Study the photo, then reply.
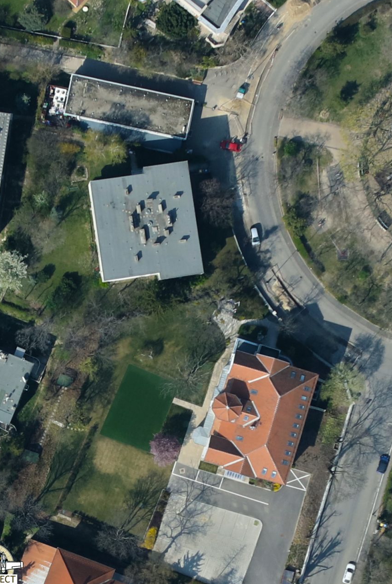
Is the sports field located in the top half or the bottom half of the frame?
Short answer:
bottom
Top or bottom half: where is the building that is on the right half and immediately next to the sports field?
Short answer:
bottom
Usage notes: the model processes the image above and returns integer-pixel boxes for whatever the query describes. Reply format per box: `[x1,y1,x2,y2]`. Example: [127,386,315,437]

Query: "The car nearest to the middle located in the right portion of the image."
[249,225,262,248]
